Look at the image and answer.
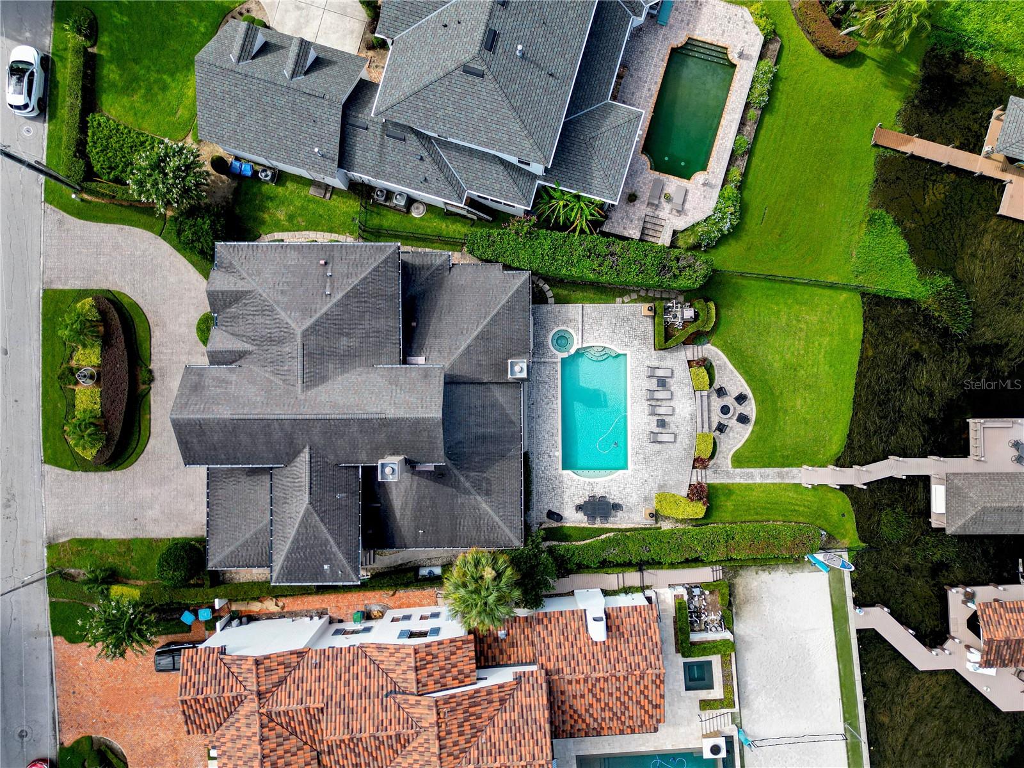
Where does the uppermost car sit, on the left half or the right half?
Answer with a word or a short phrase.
left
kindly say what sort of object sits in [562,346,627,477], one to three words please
swimming pool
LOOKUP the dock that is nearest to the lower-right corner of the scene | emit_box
[855,582,1024,712]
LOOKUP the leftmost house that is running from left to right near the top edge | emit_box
[194,0,648,223]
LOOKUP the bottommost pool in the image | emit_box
[577,747,717,768]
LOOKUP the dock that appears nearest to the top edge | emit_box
[871,107,1024,222]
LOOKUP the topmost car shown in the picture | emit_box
[6,48,48,117]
